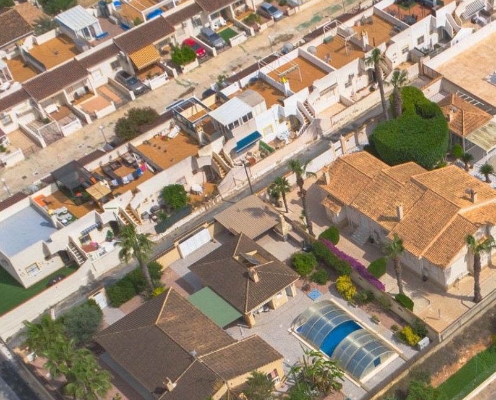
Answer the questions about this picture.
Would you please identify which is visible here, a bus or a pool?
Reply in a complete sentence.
I can see a pool in this picture.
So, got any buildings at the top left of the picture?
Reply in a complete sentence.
Yes, there is a building at the top left of the picture.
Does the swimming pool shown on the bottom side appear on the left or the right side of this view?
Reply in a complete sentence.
You can find the swimming pool shown on the bottom side on the right side of the picture.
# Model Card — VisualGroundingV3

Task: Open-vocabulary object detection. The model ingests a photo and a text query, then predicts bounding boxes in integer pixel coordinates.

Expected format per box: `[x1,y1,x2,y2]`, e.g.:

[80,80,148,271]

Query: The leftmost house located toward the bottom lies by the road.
[0,200,71,288]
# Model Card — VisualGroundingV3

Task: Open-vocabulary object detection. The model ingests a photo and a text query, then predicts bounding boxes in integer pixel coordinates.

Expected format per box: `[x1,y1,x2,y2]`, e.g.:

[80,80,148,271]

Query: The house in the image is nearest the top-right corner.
[374,0,462,55]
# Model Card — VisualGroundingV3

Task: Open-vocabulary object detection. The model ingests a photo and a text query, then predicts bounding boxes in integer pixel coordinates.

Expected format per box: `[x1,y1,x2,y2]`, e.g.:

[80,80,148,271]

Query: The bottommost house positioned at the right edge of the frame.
[313,150,496,289]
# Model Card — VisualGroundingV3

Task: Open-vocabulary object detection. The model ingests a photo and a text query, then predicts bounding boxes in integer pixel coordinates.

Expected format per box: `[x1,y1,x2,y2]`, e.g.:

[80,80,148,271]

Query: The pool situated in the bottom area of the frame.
[289,299,401,384]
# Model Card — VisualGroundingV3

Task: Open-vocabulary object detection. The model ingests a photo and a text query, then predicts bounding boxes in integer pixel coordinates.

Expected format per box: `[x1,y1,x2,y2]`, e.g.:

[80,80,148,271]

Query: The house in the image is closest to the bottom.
[85,289,284,400]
